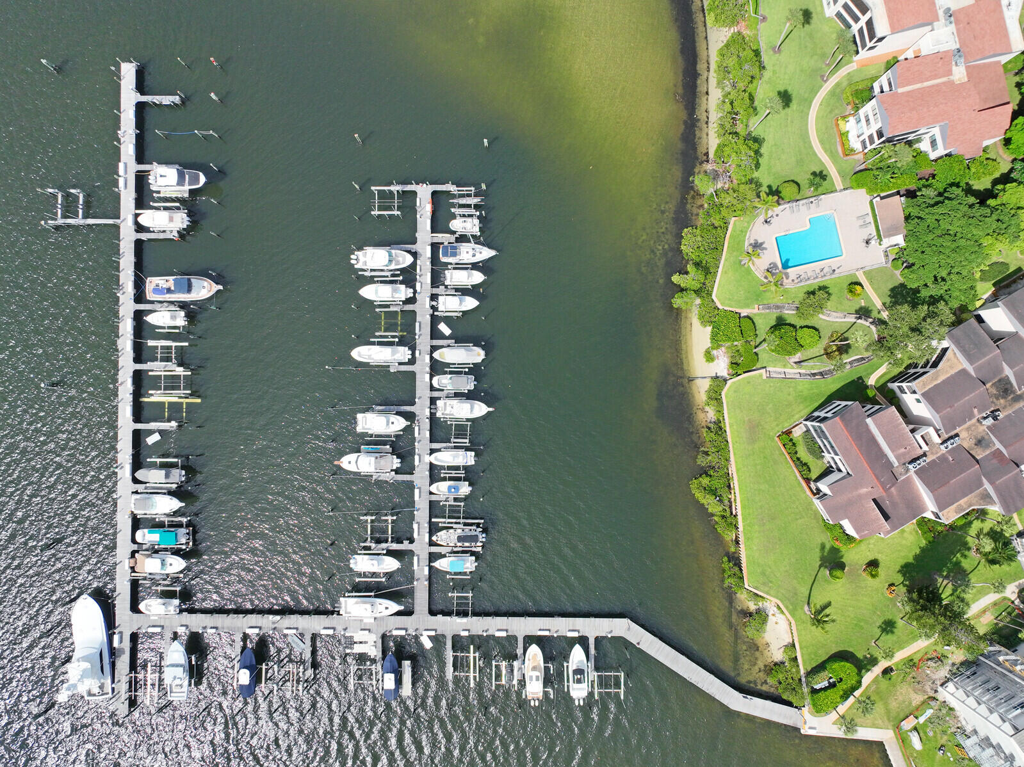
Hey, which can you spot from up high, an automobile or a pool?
pool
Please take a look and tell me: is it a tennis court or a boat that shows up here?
boat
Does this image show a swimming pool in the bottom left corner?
No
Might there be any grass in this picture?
Yes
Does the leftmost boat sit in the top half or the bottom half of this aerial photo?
bottom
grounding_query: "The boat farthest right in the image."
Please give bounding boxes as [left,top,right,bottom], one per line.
[917,707,933,723]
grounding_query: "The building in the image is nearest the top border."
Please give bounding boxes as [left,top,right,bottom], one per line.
[824,0,1024,80]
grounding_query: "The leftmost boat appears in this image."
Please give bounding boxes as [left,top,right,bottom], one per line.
[60,596,117,703]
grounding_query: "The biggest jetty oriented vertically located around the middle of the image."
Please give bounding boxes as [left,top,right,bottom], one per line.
[371,181,456,617]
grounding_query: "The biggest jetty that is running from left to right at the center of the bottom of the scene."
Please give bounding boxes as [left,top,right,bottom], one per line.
[130,613,802,729]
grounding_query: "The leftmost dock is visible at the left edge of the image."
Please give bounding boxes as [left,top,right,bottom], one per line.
[48,58,187,715]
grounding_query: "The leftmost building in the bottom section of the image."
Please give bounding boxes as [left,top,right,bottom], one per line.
[805,401,938,538]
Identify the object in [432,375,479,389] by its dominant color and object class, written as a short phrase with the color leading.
white boat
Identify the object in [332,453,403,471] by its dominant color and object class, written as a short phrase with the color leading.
white boat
